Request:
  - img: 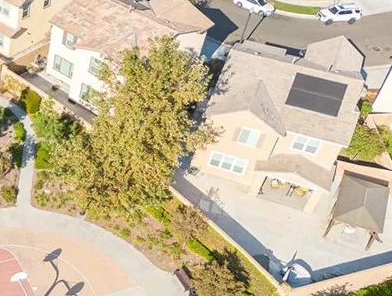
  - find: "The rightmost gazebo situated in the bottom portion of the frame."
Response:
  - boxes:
[324,177,390,254]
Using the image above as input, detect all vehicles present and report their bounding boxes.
[320,2,366,25]
[235,0,276,16]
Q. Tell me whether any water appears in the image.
No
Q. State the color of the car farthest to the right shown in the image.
white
